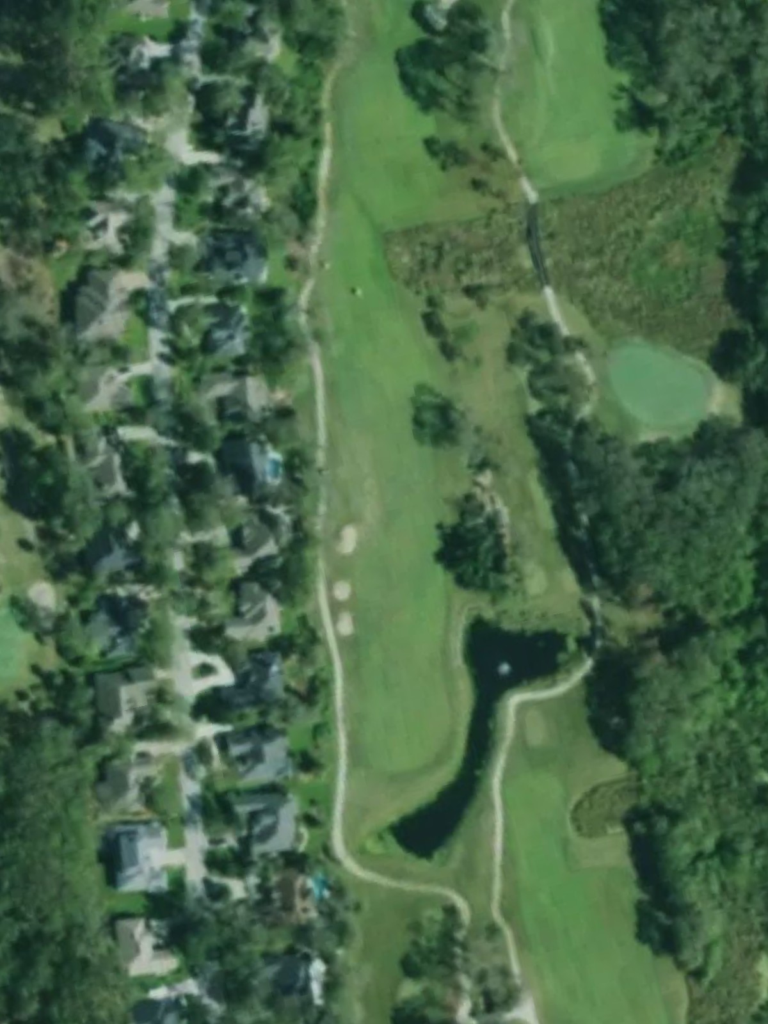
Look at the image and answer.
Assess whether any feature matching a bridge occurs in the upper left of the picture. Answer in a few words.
No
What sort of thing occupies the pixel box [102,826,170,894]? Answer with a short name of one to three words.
house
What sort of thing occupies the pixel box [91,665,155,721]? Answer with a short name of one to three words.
house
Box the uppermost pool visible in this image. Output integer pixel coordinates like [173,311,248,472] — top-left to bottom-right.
[265,443,284,485]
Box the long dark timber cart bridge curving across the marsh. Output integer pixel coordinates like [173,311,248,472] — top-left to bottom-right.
[525,199,553,293]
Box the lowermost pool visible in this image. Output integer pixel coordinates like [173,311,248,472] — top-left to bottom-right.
[308,869,331,900]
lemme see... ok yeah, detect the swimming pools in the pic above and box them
[265,443,284,485]
[308,869,331,900]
